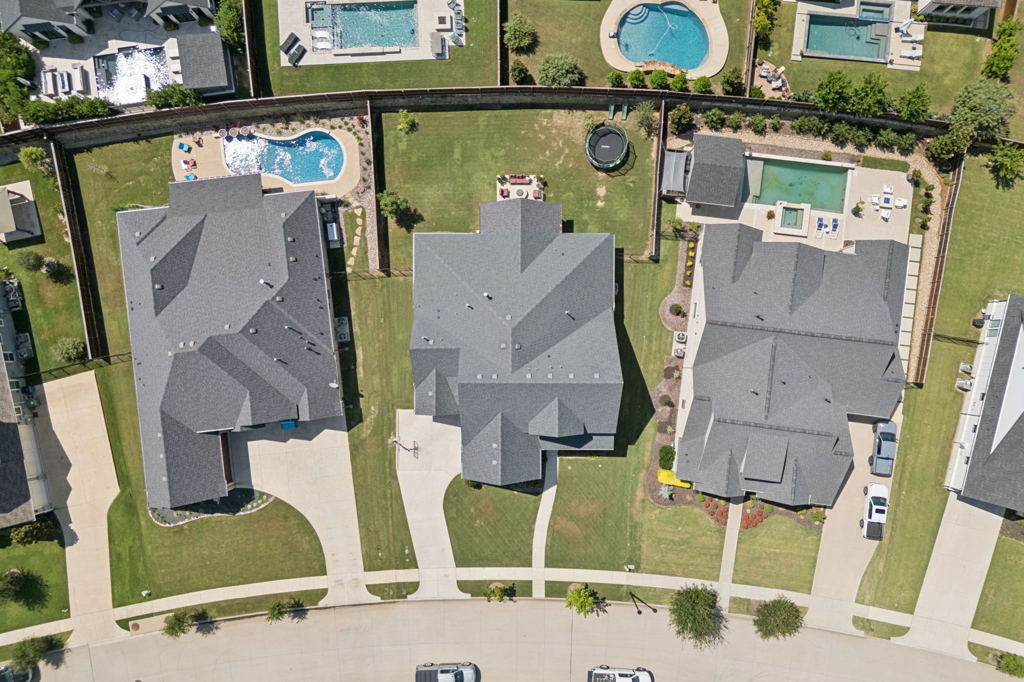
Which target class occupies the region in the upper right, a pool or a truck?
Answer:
pool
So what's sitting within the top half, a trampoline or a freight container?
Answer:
trampoline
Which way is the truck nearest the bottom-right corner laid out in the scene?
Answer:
up and down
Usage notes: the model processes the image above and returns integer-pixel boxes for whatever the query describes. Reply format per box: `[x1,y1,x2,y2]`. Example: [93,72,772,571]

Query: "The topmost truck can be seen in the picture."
[867,418,898,479]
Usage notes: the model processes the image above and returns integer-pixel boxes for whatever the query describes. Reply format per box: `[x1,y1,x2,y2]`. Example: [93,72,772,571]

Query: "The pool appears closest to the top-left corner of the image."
[92,44,169,105]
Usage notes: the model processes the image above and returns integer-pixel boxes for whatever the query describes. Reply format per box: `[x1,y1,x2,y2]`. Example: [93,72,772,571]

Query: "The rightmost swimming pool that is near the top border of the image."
[802,0,895,63]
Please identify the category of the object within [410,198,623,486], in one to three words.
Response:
house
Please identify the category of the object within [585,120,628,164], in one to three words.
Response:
trampoline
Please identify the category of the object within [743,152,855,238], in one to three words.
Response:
swimming pool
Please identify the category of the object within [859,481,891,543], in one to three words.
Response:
truck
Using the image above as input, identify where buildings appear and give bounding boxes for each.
[176,31,235,95]
[410,198,623,486]
[673,223,910,506]
[0,281,56,528]
[0,0,217,45]
[115,172,343,509]
[0,187,32,235]
[938,294,1024,512]
[682,132,743,208]
[916,0,1001,29]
